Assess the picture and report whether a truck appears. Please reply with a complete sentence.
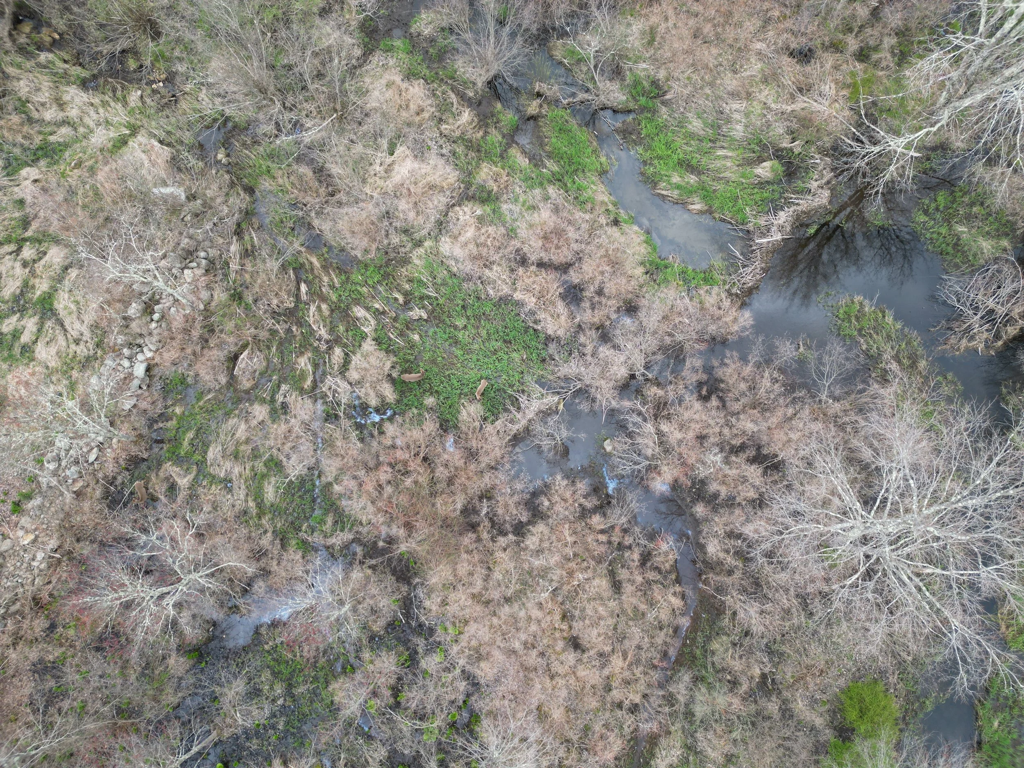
No, the photo shows no truck.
